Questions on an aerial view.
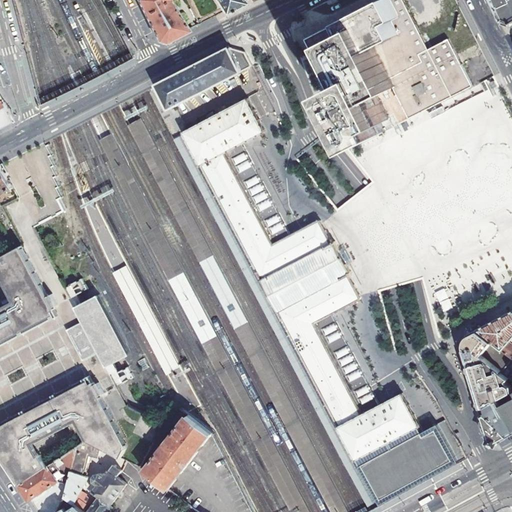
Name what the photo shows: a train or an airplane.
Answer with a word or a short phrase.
train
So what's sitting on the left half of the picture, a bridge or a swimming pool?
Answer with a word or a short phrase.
bridge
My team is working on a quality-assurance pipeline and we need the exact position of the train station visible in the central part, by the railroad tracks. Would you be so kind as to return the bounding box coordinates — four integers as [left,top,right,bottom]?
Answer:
[85,99,418,512]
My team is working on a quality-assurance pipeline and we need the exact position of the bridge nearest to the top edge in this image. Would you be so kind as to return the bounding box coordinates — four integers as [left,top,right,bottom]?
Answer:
[38,51,151,140]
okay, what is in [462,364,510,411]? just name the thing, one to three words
building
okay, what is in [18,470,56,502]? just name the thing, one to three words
house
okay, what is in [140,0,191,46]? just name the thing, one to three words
house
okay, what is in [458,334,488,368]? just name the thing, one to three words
building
